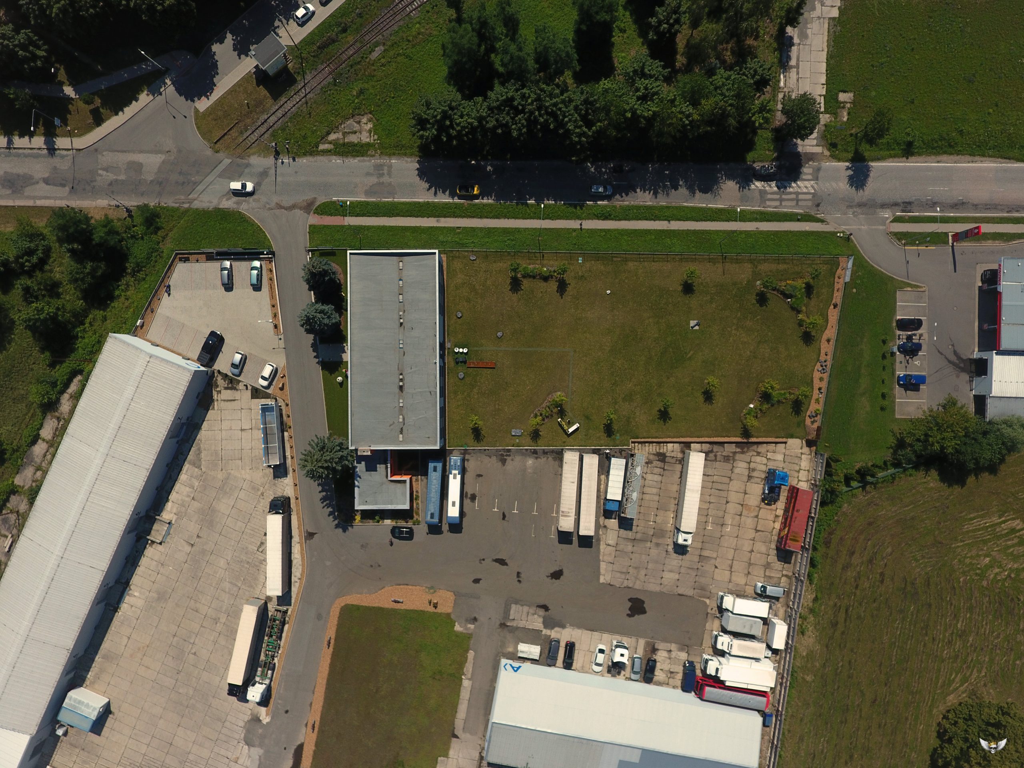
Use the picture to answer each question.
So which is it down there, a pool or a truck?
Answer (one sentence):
It is a truck that can be seen here.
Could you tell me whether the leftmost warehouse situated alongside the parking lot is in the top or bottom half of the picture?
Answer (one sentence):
The leftmost warehouse situated alongside the parking lot sits in the bottom half of the picture.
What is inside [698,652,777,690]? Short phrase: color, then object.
white truck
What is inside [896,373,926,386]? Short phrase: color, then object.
blue vehicle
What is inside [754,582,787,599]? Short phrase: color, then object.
gray vehicle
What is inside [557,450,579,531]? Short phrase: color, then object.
white trailer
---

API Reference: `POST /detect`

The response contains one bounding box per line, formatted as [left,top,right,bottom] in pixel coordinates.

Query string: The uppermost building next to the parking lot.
[347,250,447,455]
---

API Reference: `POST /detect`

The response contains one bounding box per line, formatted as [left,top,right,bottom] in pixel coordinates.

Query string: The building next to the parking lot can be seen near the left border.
[0,333,210,768]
